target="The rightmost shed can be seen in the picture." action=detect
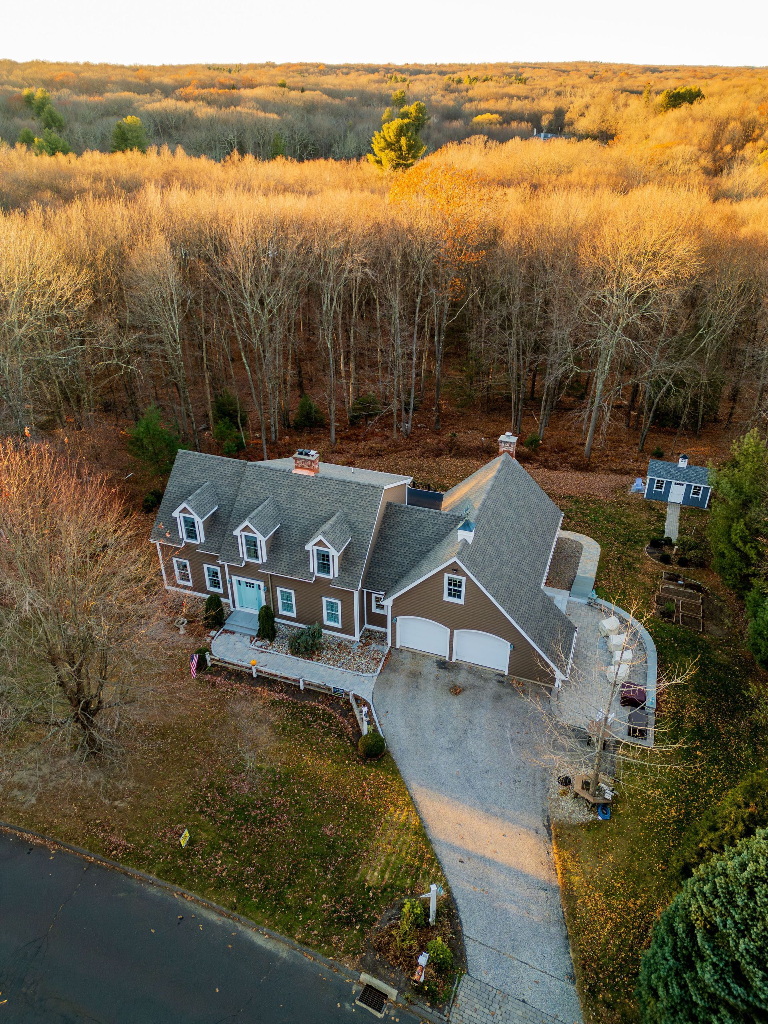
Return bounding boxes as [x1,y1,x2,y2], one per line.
[645,458,717,507]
